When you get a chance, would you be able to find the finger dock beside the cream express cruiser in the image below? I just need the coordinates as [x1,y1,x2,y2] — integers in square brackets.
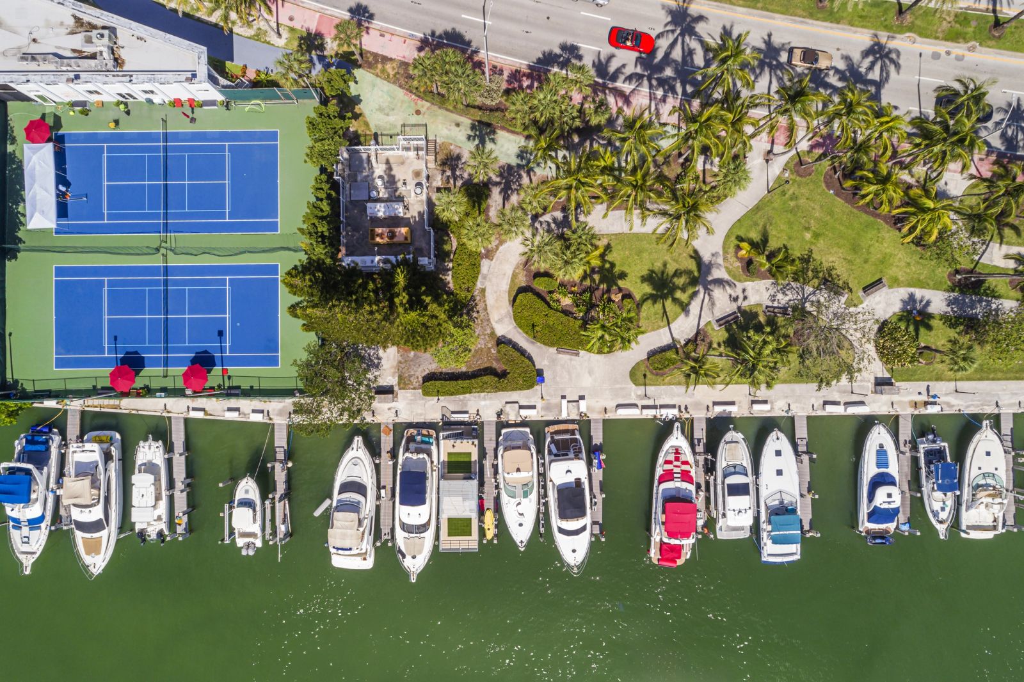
[998,413,1016,525]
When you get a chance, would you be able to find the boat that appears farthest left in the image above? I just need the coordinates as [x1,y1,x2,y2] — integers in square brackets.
[0,424,61,573]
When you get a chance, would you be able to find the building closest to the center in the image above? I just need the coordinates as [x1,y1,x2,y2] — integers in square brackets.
[333,135,434,271]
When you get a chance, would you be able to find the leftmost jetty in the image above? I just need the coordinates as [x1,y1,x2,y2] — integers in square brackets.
[59,408,83,525]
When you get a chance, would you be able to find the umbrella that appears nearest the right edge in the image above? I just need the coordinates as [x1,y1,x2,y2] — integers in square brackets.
[183,364,209,390]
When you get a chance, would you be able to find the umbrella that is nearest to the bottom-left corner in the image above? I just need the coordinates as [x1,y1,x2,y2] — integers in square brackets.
[110,365,139,391]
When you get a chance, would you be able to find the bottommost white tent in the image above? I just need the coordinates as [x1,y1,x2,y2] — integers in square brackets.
[24,142,73,233]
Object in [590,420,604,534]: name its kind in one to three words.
pier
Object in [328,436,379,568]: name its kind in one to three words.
boat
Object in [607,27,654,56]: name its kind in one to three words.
car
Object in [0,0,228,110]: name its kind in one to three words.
building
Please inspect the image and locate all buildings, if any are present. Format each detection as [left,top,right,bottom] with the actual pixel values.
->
[0,0,228,110]
[333,135,434,271]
